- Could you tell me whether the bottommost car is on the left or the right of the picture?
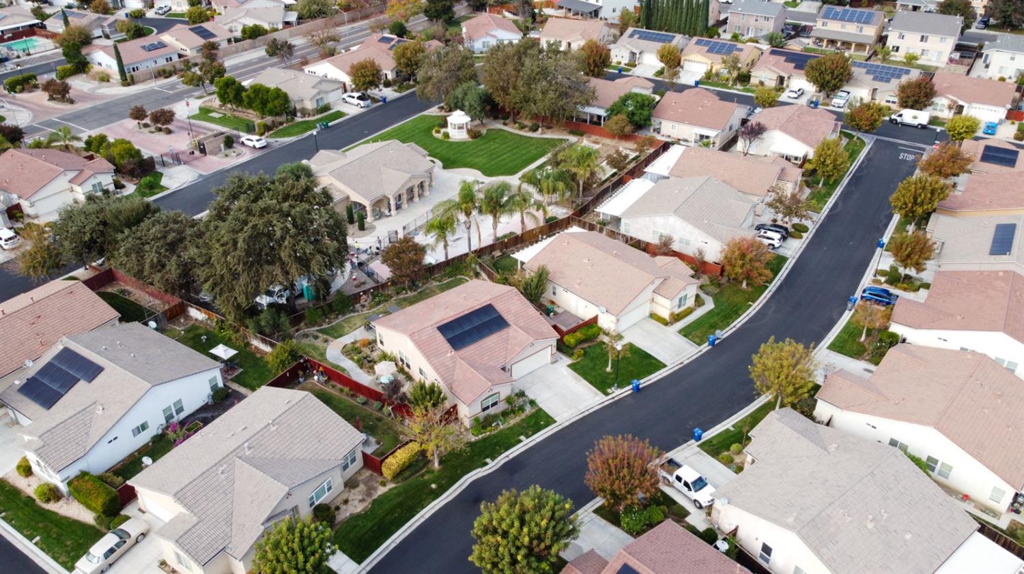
left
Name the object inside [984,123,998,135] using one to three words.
vehicle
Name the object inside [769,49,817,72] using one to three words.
solar array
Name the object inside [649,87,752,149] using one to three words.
house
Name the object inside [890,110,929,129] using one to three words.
vehicle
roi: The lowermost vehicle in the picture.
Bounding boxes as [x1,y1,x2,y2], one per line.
[68,517,149,574]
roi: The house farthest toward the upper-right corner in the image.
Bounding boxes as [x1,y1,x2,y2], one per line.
[971,32,1024,82]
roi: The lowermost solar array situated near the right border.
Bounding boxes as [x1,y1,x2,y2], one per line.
[983,223,1022,255]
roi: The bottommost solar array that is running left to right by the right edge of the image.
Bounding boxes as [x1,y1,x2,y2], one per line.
[979,145,1021,165]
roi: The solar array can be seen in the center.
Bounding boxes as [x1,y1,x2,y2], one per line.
[437,304,509,350]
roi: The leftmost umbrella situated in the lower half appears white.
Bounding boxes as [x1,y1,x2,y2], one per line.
[206,344,238,361]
